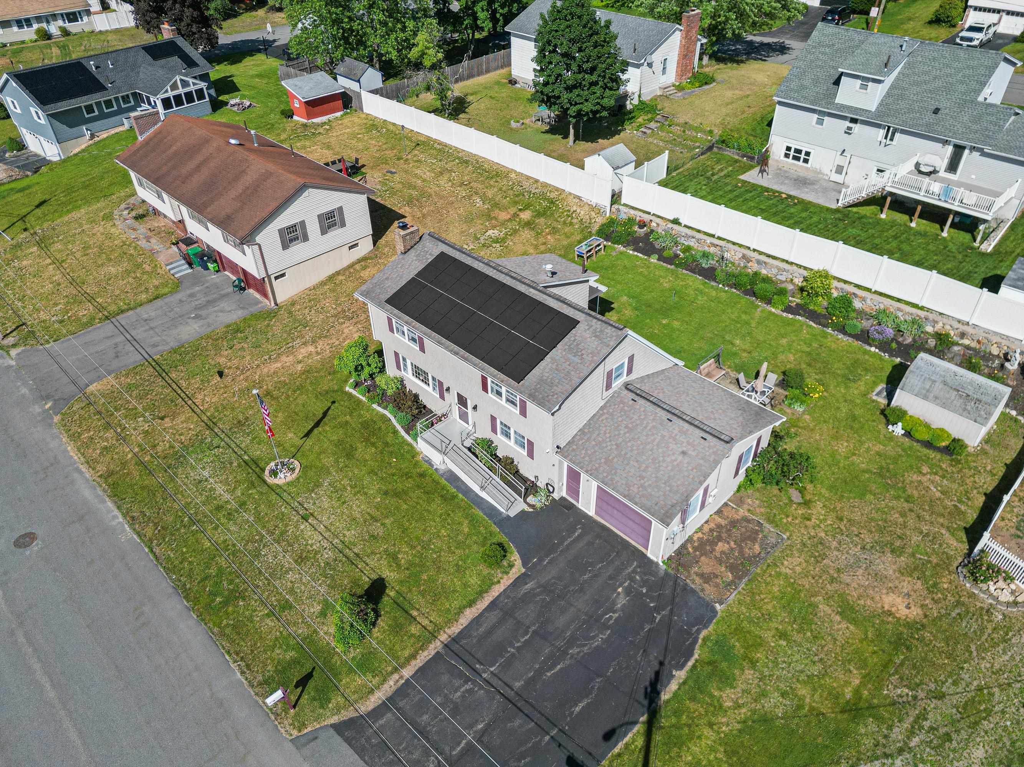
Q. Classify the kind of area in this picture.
residential area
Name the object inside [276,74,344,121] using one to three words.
shed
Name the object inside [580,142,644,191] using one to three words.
shed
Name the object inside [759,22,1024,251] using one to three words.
house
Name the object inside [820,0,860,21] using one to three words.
car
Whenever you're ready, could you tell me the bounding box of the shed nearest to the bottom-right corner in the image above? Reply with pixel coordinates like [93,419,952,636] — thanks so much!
[890,351,1014,448]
